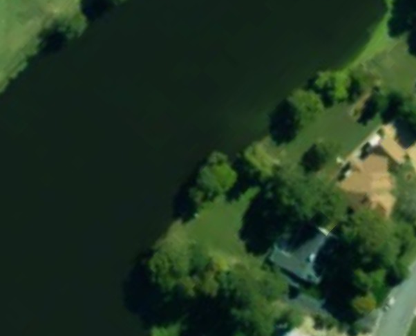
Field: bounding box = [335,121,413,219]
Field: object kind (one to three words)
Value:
house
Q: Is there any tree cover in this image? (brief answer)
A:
Yes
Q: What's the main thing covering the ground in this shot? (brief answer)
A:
water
